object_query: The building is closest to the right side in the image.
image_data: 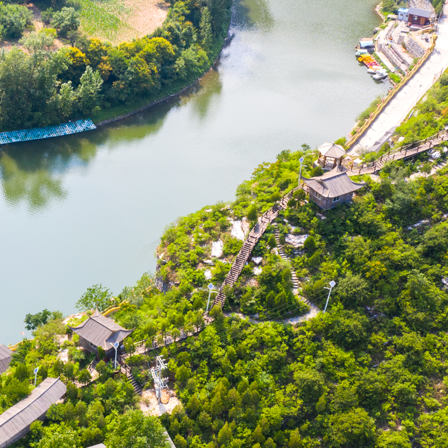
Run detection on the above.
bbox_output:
[405,8,433,28]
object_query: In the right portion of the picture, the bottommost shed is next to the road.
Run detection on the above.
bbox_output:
[303,164,367,218]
